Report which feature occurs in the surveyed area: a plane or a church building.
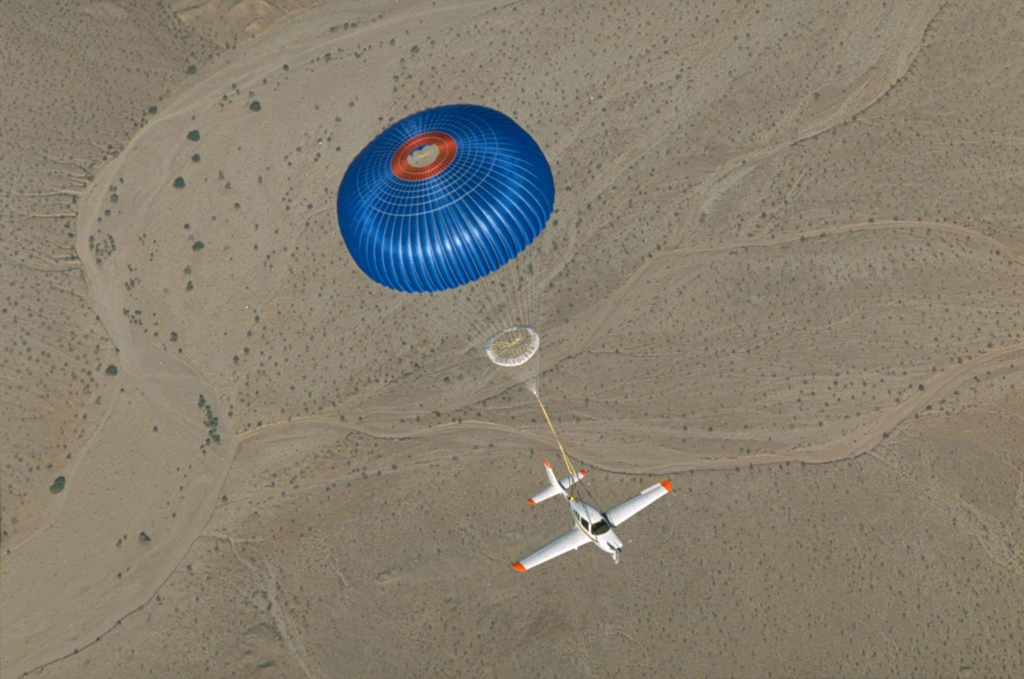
plane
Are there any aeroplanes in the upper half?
No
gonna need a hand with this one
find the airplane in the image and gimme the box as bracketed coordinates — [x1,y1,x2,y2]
[513,455,678,568]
